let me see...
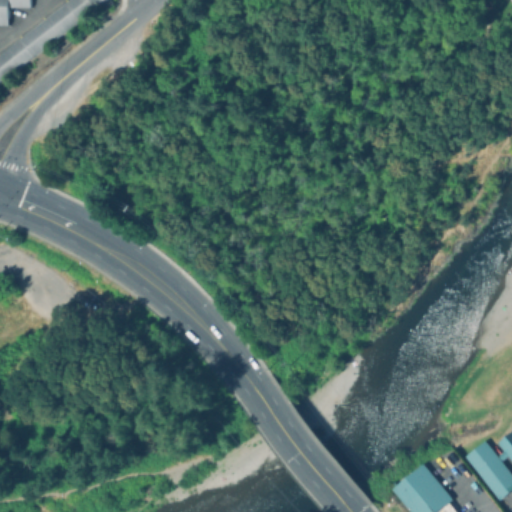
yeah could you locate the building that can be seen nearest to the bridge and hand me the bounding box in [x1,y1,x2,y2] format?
[393,464,453,512]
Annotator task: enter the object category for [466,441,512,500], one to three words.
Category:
building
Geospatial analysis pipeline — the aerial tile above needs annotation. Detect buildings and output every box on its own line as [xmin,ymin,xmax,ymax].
[466,441,512,500]
[393,464,453,512]
[498,432,512,463]
[0,0,9,26]
[10,0,32,9]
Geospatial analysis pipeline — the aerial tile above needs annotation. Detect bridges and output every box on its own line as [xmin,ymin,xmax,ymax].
[234,361,379,512]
